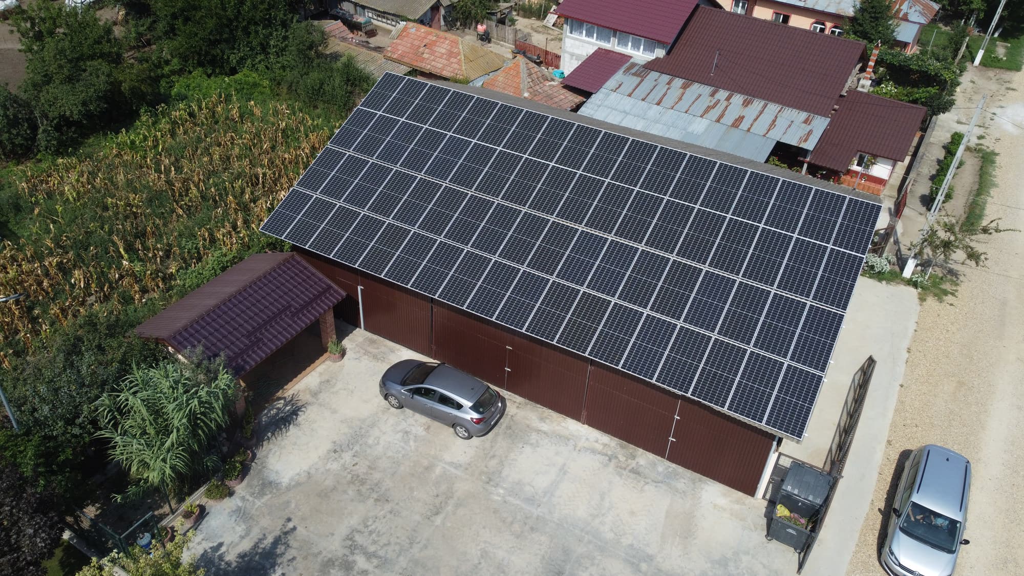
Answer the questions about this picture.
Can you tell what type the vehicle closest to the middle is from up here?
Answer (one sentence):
The vehicle closest to the middle appears to be an automobile.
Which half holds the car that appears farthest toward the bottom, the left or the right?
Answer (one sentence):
You can find the car that appears farthest toward the bottom on the right side of the picture.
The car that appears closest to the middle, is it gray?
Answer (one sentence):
Yes, the car that appears closest to the middle is indeed gray.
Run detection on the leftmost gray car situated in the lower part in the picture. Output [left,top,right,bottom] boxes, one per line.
[383,358,506,440]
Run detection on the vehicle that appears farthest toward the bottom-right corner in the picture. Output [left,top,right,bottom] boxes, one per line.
[879,451,970,576]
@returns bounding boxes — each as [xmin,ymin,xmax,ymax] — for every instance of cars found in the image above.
[383,358,506,440]
[879,451,970,576]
